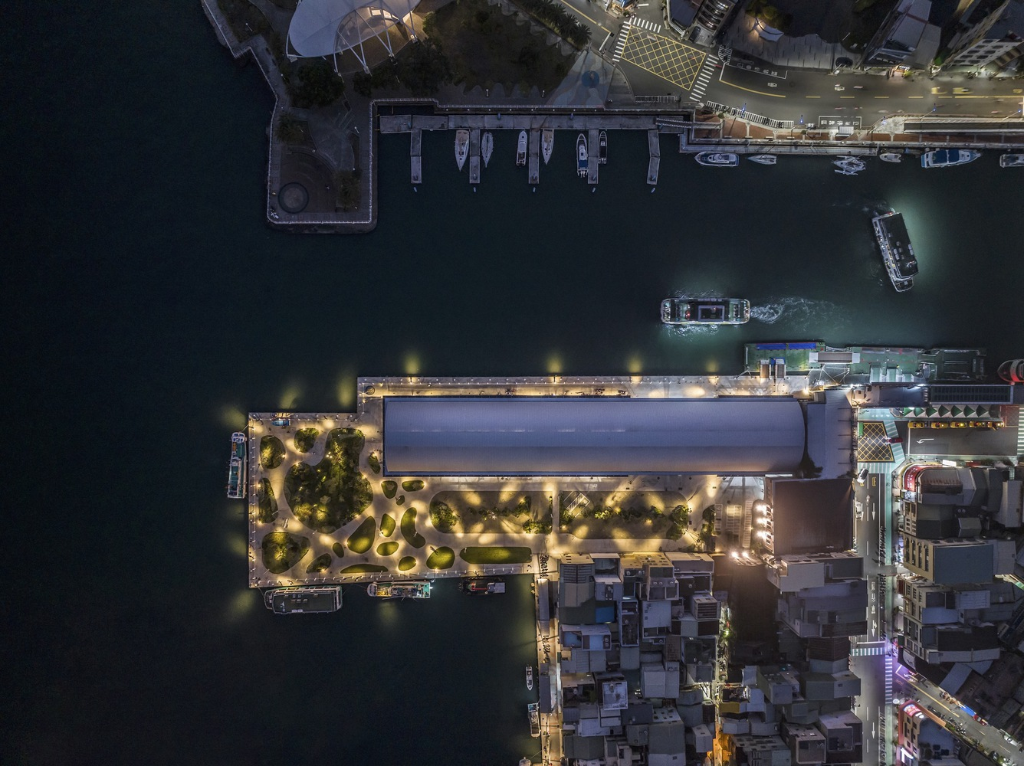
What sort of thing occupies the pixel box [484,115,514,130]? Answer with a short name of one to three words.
pier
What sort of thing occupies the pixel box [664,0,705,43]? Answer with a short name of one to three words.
house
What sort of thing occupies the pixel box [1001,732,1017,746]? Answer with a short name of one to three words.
car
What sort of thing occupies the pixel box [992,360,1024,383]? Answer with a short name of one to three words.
boat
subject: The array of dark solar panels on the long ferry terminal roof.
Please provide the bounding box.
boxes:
[932,387,1010,403]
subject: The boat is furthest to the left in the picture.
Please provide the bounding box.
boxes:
[226,432,252,500]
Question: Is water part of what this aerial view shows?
Yes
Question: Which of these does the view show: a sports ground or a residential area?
residential area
